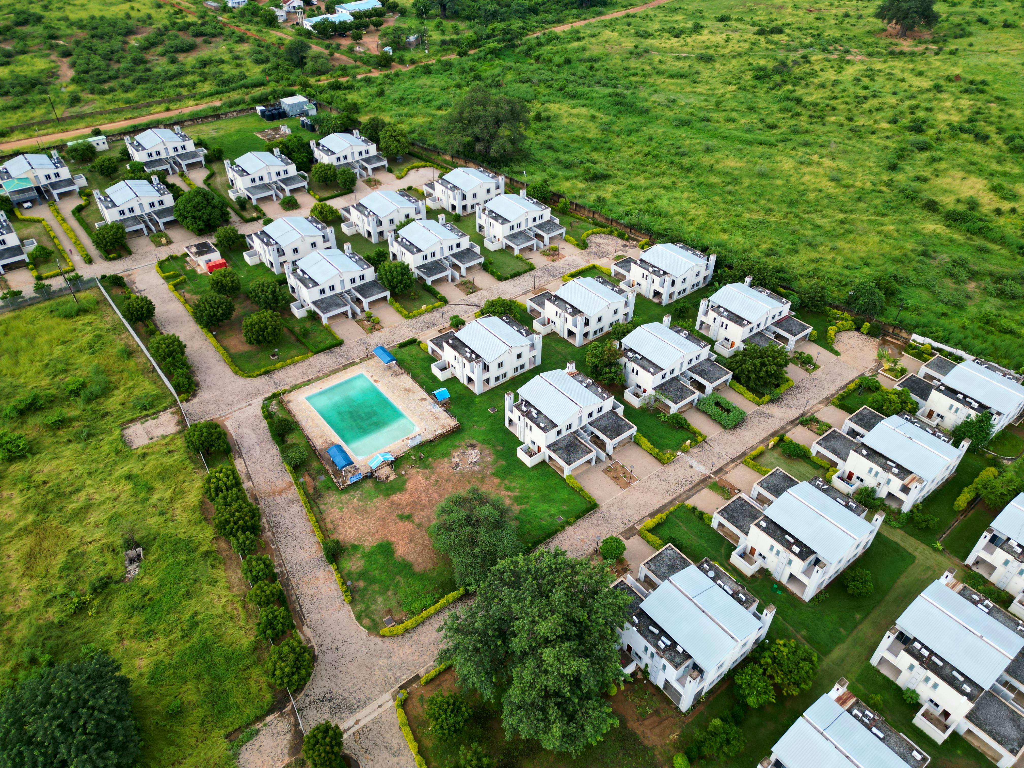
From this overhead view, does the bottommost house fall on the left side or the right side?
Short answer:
right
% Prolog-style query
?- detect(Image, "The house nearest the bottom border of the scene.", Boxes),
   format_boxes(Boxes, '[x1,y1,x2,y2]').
[756,678,930,768]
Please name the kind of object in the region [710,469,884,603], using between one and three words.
house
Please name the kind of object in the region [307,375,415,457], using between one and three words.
swimming pool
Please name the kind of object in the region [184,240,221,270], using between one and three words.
building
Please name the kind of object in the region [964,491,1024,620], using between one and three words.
house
